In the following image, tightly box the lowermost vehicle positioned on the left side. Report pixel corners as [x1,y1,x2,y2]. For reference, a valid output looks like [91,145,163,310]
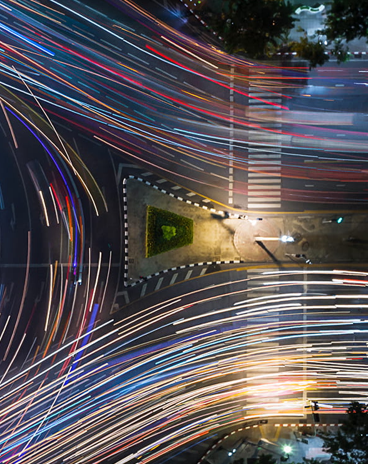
[73,260,87,287]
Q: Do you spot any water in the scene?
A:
No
